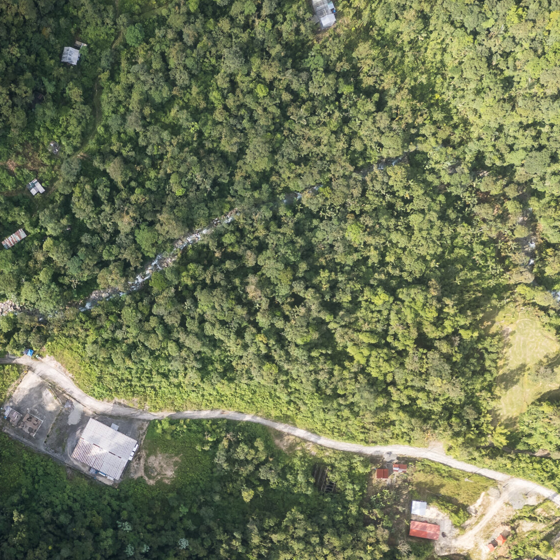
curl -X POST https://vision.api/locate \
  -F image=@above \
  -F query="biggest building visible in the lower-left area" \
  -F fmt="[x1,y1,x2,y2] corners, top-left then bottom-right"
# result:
[71,418,137,480]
